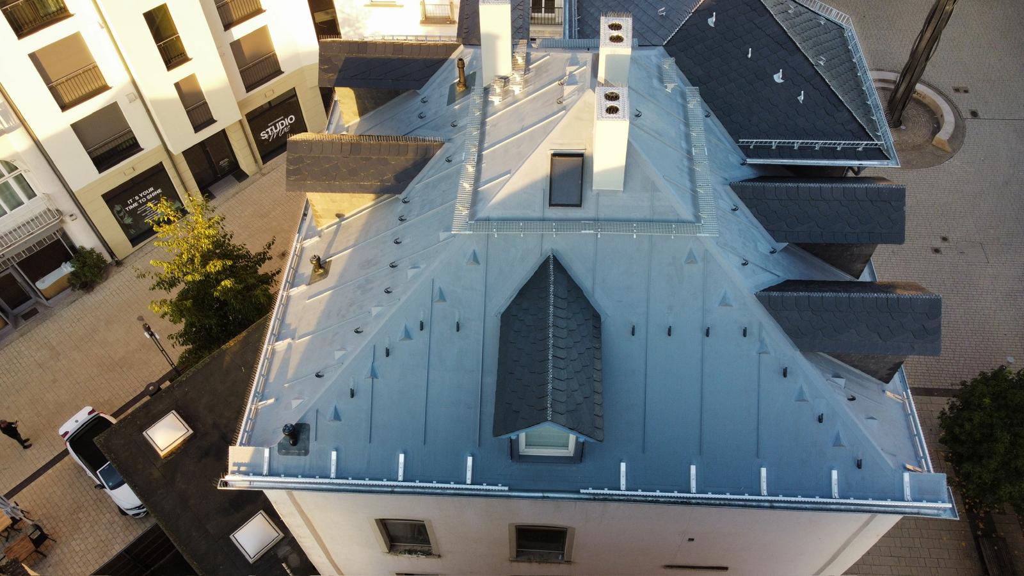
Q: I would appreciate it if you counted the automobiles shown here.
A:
1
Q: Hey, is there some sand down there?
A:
No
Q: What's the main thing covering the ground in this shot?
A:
buildings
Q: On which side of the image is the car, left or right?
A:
left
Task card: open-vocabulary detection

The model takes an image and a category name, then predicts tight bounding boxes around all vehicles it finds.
[56,400,151,518]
